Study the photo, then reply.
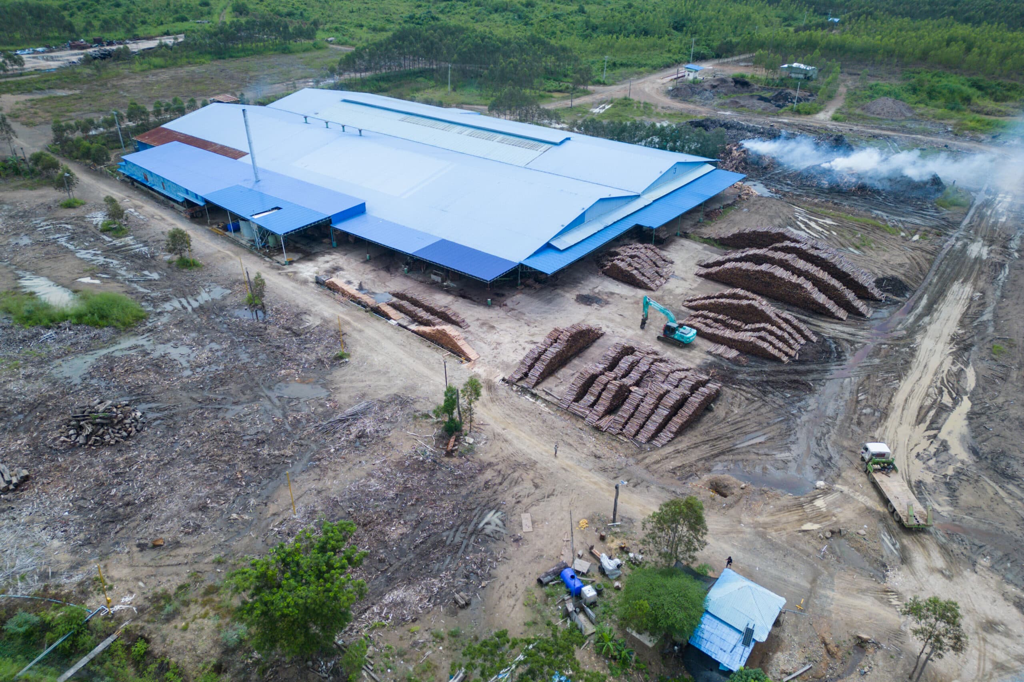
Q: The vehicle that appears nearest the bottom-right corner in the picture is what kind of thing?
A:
truck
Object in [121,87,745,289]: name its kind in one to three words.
building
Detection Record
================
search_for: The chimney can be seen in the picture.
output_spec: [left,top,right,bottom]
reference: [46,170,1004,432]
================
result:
[241,107,260,182]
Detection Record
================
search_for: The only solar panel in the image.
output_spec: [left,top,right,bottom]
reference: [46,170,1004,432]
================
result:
[730,626,754,661]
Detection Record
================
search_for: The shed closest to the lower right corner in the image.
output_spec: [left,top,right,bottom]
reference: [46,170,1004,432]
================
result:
[687,568,807,682]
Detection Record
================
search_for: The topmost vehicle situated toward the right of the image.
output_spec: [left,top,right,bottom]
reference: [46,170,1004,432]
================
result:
[639,293,690,347]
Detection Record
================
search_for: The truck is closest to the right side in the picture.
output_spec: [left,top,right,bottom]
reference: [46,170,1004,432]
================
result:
[857,443,939,532]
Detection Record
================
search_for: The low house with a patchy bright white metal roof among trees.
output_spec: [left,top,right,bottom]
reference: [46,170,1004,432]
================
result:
[782,63,815,79]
